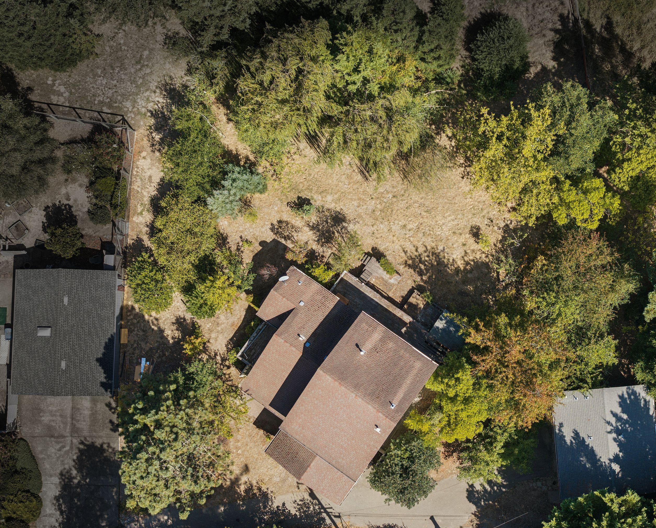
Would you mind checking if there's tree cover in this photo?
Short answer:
Yes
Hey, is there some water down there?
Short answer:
No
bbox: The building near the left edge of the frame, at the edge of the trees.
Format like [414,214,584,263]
[9,268,122,398]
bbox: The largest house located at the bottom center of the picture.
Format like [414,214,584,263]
[239,265,438,506]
